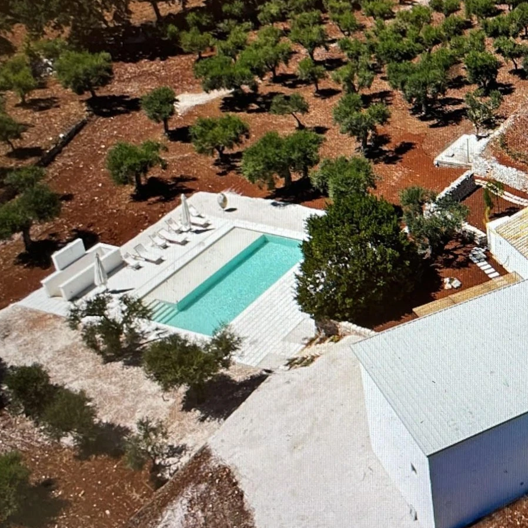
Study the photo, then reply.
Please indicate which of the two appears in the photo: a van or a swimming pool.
swimming pool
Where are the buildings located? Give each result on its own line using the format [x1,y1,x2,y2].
[340,282,528,528]
[486,199,528,279]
